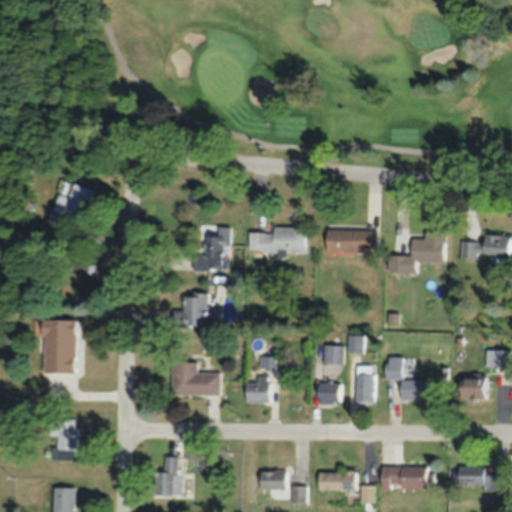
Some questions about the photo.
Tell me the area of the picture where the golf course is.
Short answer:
top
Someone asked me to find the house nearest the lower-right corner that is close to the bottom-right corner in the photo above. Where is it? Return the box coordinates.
[456,467,486,488]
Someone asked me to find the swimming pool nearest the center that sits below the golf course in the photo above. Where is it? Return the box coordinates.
[252,337,266,352]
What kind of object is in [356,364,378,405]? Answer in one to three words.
house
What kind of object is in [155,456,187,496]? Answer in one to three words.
house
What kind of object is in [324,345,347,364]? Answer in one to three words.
building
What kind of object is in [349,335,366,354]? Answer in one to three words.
building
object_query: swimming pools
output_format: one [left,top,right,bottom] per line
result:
[426,279,439,292]
[252,337,266,352]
